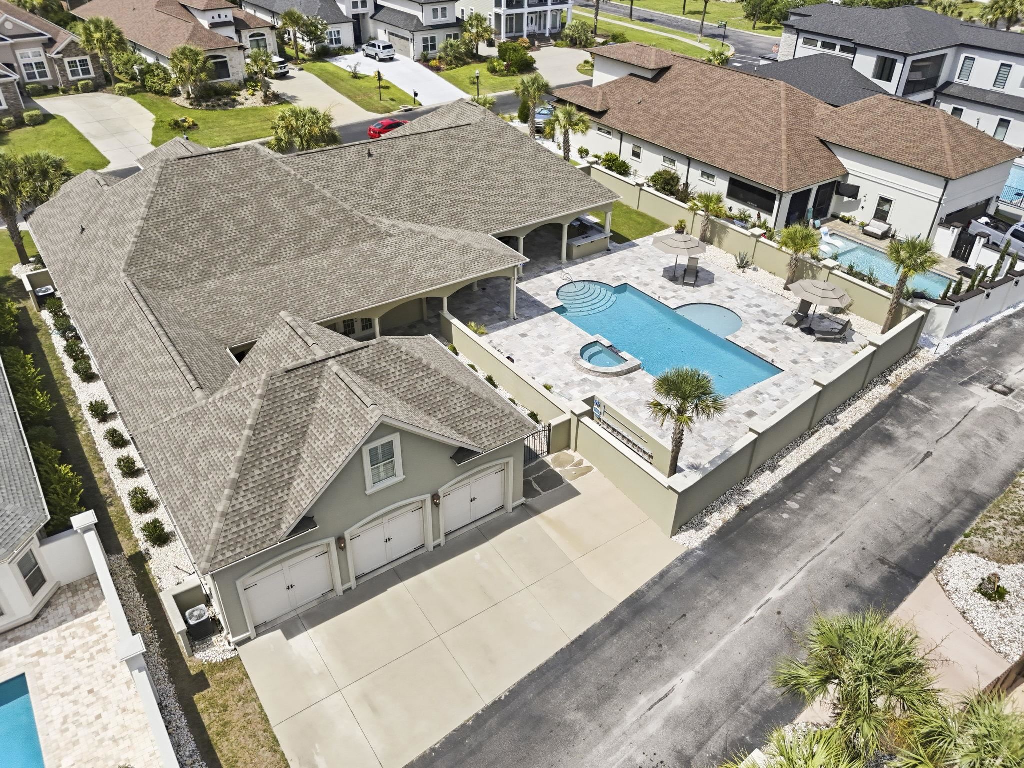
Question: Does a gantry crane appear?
No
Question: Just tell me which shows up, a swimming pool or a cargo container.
swimming pool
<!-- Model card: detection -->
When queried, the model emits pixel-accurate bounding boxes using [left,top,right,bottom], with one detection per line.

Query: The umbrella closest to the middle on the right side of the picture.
[652,232,706,280]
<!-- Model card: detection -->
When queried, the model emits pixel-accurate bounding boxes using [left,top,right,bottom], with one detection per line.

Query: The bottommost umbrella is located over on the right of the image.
[786,278,850,331]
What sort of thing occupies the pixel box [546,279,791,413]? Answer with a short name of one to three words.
swimming pool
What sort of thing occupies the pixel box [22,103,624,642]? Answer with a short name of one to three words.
house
